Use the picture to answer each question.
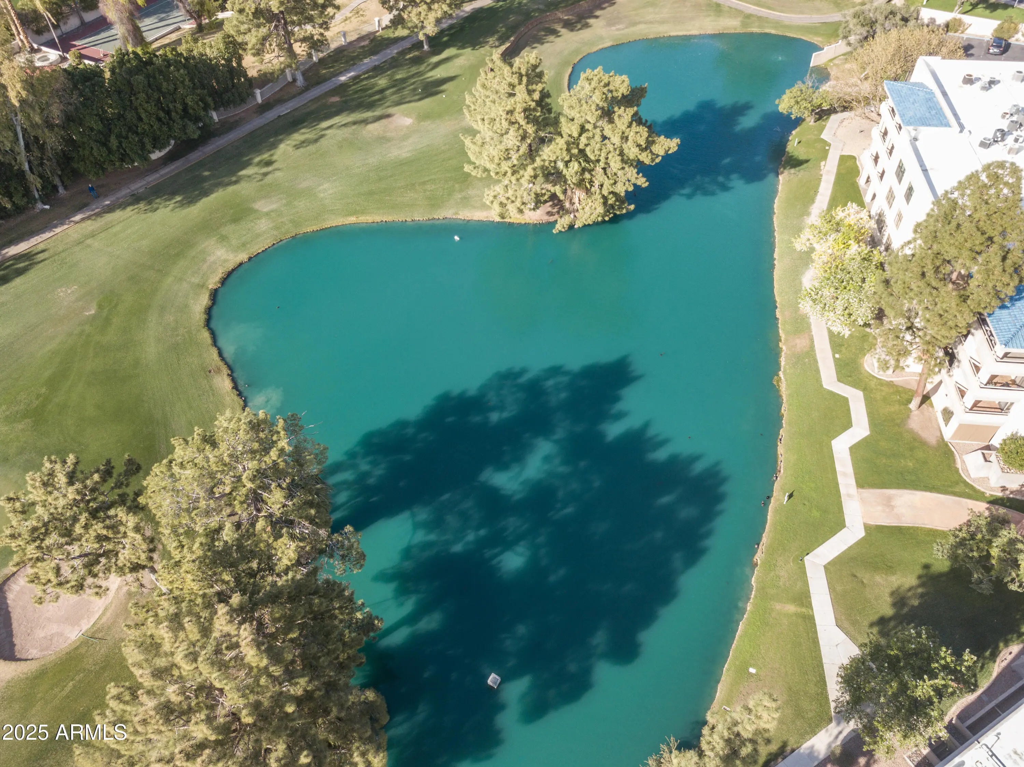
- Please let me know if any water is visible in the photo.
Yes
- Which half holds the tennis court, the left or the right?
left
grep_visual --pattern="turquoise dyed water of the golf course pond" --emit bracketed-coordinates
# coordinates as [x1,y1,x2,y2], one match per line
[207,33,829,767]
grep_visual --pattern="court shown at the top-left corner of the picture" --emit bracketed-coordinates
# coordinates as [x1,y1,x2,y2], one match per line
[39,0,231,62]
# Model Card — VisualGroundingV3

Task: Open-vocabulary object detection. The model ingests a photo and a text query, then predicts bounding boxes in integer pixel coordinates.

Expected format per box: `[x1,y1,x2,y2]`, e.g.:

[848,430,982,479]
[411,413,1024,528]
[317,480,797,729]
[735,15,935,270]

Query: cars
[989,35,1009,52]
